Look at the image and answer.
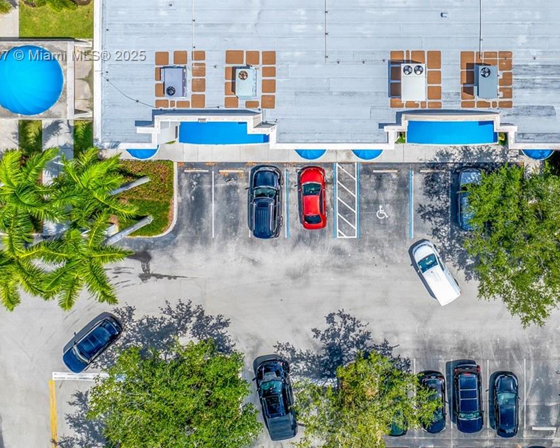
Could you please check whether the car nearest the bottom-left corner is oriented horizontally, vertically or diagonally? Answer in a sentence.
From this overhead view, the car nearest the bottom-left corner appears to run diagonally.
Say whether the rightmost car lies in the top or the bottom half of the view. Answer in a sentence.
It is in the bottom half that the rightmost car appears.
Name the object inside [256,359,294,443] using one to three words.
truck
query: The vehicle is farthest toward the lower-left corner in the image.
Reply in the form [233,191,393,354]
[66,315,124,368]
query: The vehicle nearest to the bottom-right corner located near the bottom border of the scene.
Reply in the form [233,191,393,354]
[490,372,521,440]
